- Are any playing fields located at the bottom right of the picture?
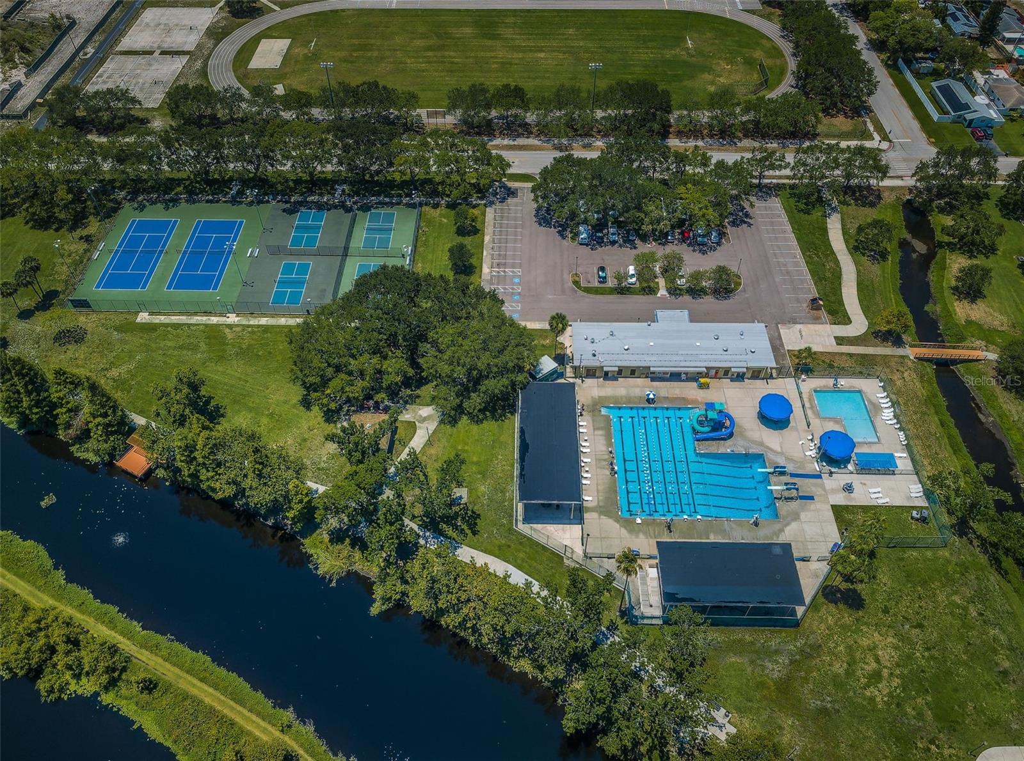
No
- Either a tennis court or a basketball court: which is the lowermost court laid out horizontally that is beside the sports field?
basketball court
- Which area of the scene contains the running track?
top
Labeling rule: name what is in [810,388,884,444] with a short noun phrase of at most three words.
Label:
swimming pool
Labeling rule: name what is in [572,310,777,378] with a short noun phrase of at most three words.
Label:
building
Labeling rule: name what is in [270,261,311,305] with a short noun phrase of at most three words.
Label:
sports court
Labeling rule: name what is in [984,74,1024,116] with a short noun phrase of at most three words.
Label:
house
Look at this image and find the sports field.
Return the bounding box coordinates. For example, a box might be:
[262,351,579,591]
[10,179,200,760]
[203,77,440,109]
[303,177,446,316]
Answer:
[233,8,788,110]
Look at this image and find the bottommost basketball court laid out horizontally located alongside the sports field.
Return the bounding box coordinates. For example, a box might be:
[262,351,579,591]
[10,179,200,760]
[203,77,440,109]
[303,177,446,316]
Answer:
[80,55,189,107]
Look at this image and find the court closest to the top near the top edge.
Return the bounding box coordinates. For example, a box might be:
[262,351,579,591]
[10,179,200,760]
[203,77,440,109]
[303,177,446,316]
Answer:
[116,7,219,50]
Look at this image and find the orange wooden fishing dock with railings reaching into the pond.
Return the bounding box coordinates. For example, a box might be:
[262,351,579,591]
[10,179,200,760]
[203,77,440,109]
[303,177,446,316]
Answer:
[115,431,165,477]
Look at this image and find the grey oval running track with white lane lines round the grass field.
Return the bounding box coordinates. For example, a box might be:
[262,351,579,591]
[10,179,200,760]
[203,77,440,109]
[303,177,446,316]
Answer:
[206,0,813,125]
